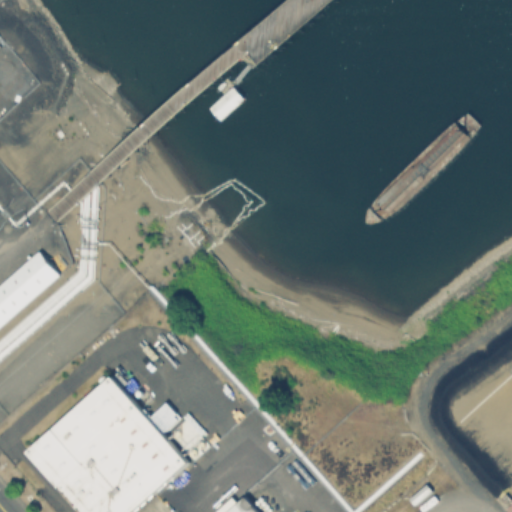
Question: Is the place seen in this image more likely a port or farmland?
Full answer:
The picture captures a port.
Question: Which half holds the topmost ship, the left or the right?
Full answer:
The topmost ship sits on the right side.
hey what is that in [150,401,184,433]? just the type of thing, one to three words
shed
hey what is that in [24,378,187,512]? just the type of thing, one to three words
warehouse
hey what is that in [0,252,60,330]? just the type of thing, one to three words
building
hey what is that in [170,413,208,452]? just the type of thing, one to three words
shed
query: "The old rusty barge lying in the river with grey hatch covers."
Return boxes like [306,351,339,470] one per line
[366,114,482,224]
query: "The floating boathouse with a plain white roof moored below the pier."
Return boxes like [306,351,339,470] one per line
[208,86,246,123]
